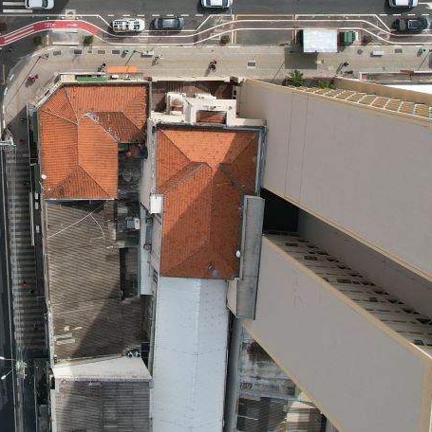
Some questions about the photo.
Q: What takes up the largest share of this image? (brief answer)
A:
buildings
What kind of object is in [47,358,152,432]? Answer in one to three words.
building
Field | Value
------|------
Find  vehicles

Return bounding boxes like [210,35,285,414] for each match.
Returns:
[200,0,232,9]
[112,17,144,32]
[392,17,428,32]
[153,17,184,31]
[386,0,416,8]
[24,0,54,10]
